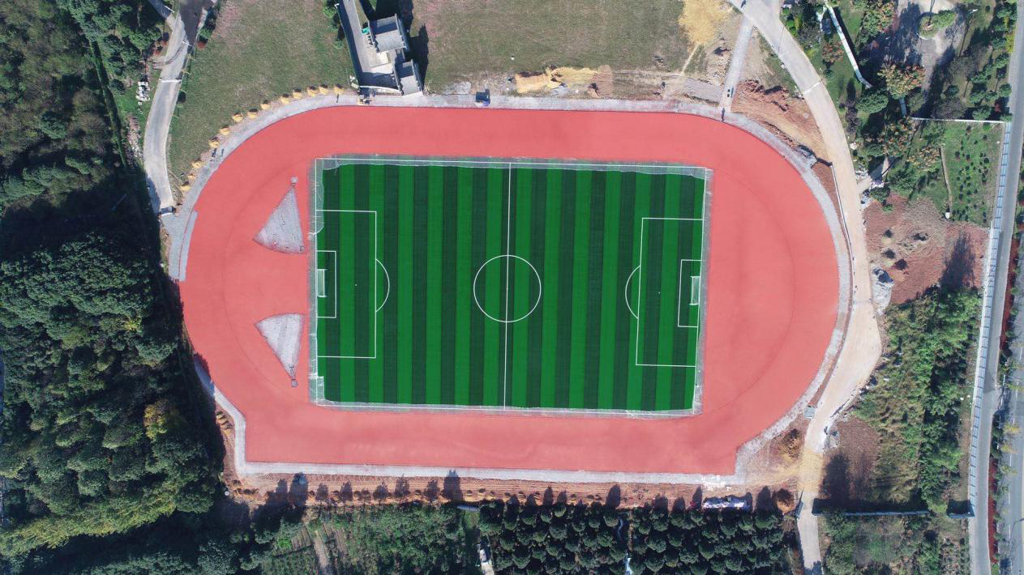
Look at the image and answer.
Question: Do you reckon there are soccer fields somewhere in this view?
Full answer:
Yes, a soccer field is visible in the scene.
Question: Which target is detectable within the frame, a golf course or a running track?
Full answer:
Visible in the photo is a running track.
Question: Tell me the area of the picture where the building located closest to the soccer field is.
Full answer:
The building located closest to the soccer field sits in the top section of the image.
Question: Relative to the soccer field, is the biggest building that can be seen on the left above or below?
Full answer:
Looking at the photo, you'll find the biggest building that can be seen on the left above the soccer field.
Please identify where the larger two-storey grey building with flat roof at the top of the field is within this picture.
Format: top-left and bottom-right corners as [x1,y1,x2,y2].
[370,12,409,59]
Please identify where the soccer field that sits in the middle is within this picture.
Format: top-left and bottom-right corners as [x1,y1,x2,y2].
[308,154,713,419]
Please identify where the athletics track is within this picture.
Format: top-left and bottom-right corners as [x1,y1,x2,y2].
[179,105,839,476]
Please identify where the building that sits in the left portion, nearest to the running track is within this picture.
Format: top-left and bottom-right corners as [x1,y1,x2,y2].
[394,58,423,99]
